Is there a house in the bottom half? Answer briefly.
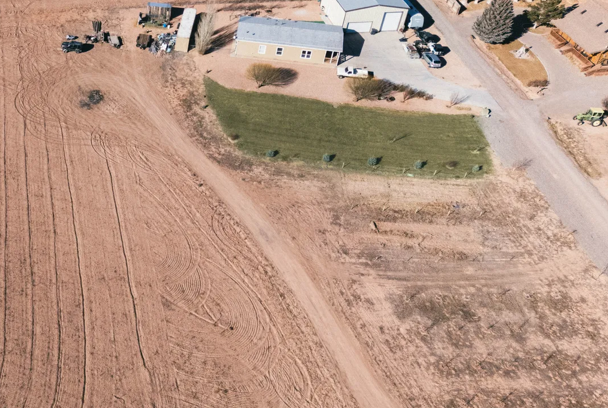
No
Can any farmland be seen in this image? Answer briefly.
Yes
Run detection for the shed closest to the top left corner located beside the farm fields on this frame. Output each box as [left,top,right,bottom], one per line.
[146,2,171,22]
